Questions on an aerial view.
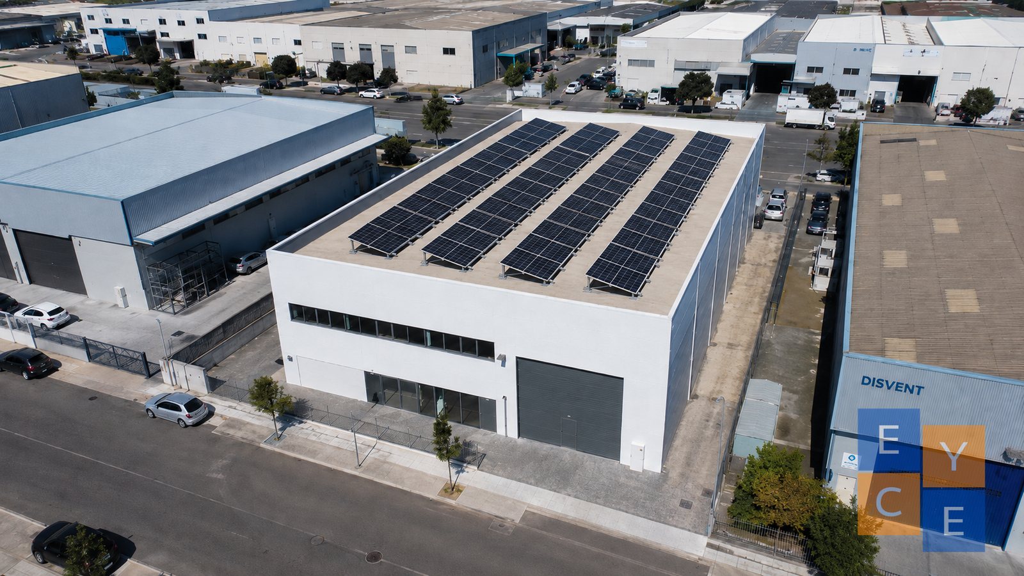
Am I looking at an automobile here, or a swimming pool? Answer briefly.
automobile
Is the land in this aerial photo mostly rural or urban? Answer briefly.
urban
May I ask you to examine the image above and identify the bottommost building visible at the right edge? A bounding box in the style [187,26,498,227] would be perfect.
[826,120,1024,544]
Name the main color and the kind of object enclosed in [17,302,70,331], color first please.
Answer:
white car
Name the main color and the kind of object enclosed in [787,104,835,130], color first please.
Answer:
white truck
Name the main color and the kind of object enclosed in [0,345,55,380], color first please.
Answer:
black car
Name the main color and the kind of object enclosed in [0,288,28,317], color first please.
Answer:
black car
